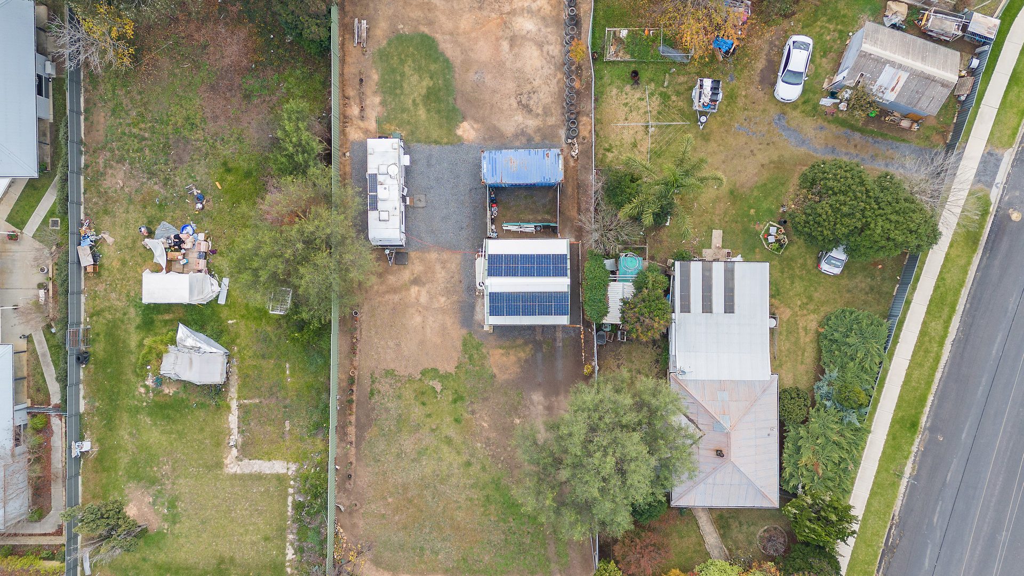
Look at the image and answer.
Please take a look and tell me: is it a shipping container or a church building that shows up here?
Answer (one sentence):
I can see a shipping container in this picture.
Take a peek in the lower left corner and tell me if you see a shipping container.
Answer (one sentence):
No, in the lower left corner there is no shipping container.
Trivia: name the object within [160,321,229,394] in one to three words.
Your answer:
tent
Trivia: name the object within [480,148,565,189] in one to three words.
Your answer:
shipping container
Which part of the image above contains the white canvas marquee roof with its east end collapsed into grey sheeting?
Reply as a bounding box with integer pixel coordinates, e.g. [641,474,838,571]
[128,273,220,305]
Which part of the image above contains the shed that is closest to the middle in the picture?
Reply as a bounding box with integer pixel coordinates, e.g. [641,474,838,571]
[480,237,572,326]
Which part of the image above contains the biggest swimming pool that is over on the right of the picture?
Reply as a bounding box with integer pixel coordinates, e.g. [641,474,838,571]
[618,253,642,282]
